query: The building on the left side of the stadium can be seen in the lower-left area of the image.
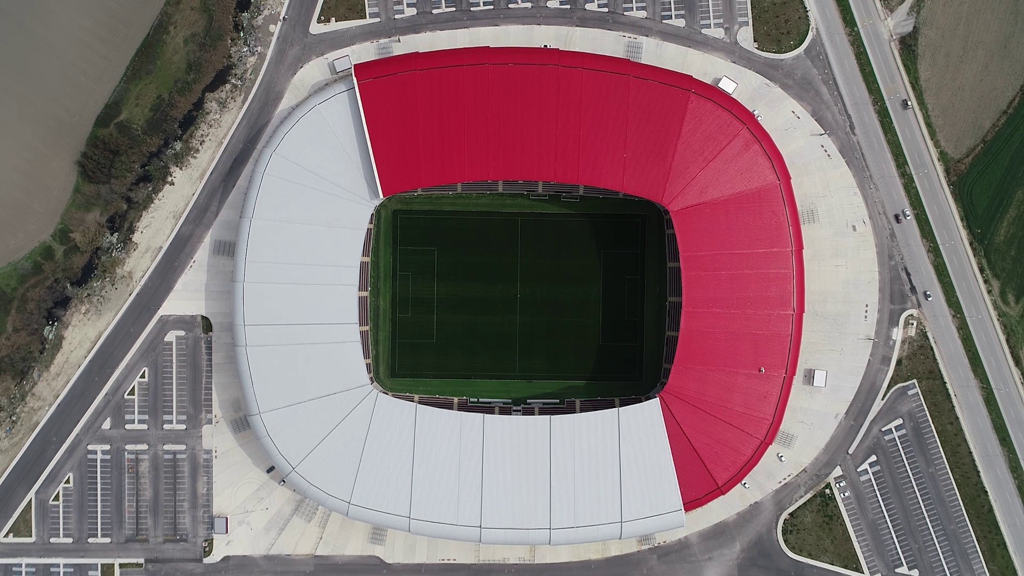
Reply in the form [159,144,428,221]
[214,515,231,534]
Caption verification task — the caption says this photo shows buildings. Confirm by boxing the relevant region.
[333,55,353,74]
[810,369,827,387]
[716,76,738,96]
[214,515,231,534]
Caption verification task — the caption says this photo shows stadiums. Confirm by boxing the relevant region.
[231,45,806,546]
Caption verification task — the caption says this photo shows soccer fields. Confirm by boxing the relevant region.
[370,193,667,407]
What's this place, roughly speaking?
sports ground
